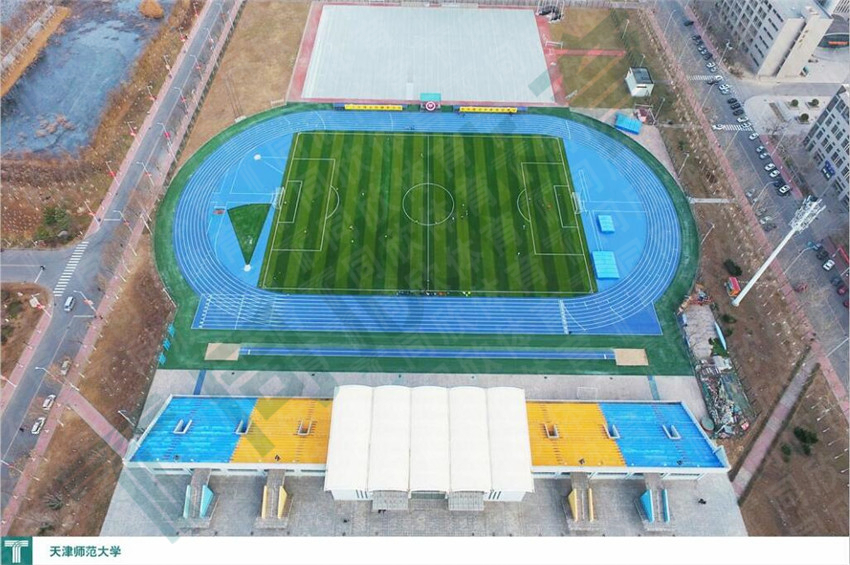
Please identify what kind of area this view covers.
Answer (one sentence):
This image shows a sports ground.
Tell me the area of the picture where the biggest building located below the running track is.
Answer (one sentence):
You can find the biggest building located below the running track in the bottom area of the picture.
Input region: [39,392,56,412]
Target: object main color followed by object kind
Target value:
white car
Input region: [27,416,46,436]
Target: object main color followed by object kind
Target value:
white car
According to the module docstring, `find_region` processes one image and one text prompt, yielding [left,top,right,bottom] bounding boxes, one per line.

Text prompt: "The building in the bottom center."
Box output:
[325,385,532,518]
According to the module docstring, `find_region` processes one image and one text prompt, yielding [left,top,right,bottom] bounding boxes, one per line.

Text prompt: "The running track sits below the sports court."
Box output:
[145,101,693,376]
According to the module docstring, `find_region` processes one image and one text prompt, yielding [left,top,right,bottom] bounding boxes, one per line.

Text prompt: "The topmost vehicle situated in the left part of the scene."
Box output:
[61,295,77,313]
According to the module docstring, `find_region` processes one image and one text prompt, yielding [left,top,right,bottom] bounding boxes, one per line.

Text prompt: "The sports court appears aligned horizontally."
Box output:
[285,3,566,105]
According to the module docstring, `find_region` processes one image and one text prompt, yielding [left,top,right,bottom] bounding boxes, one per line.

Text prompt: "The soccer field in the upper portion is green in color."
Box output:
[258,131,598,298]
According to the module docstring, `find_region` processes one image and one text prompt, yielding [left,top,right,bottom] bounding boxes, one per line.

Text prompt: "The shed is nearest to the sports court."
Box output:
[628,70,656,96]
